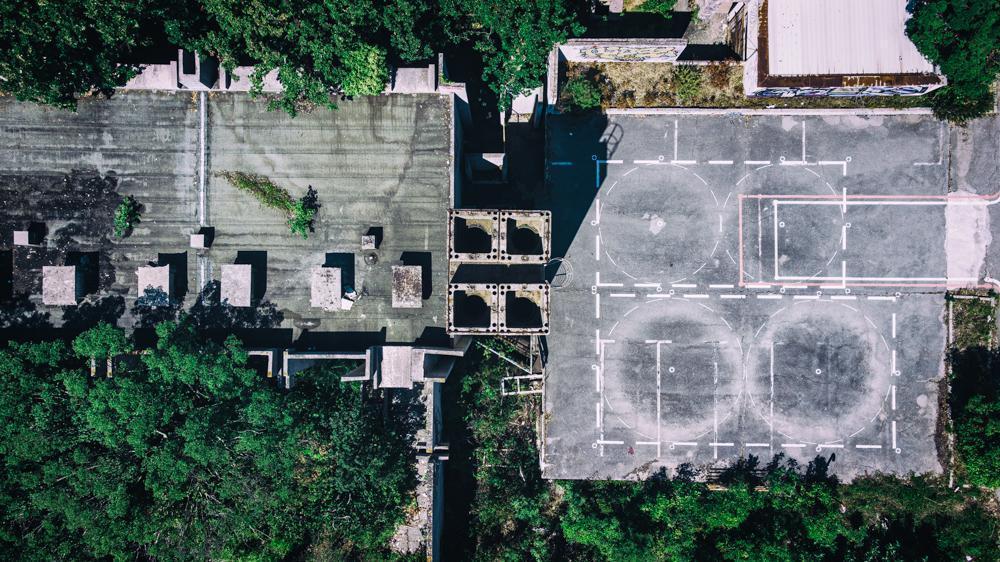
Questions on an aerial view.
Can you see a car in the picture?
No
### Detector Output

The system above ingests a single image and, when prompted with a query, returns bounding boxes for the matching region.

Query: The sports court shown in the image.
[535,110,1000,481]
